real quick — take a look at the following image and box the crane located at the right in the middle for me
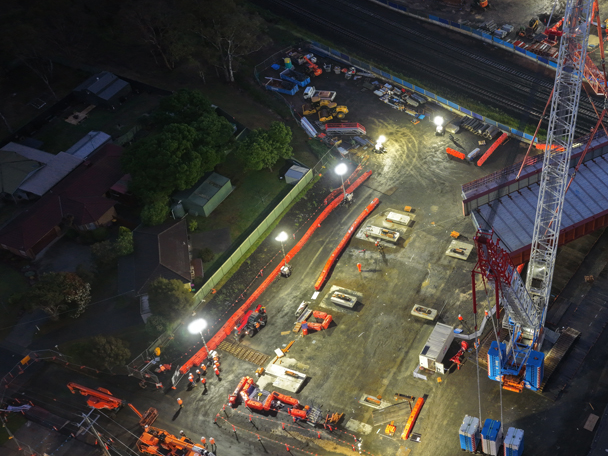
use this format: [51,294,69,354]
[470,0,597,429]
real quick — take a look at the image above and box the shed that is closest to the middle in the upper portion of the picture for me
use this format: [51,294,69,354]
[285,165,310,186]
